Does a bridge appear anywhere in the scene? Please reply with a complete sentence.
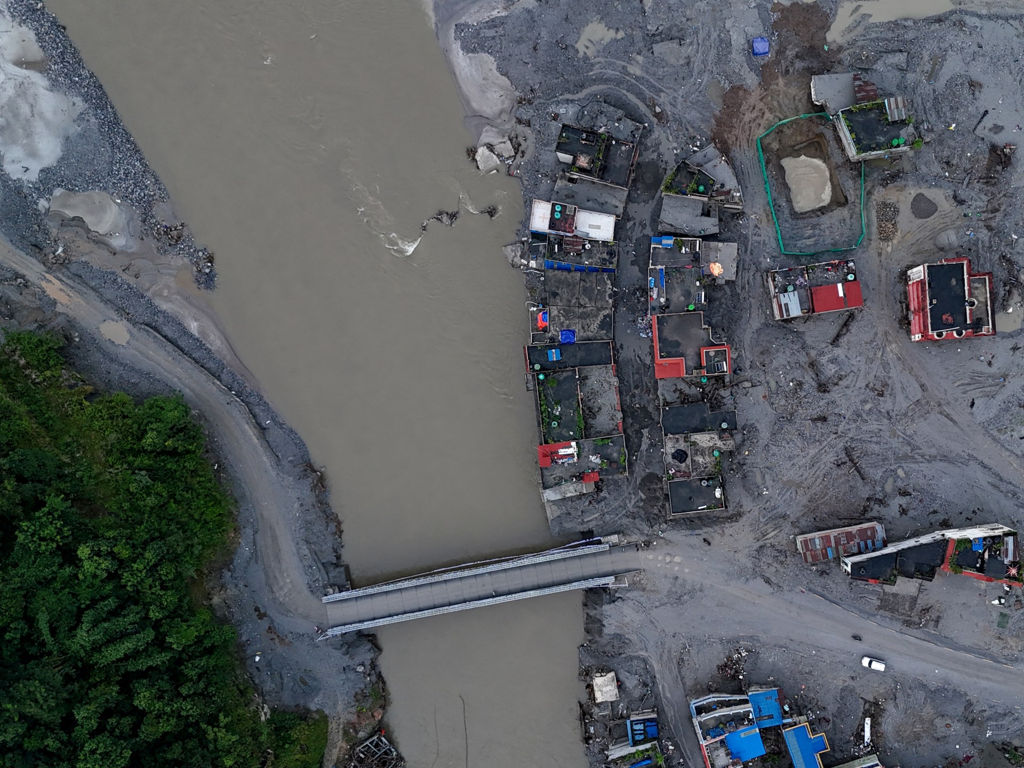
Yes, the photo shows a bridge.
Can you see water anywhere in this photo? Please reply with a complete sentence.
Yes, there's water in this view.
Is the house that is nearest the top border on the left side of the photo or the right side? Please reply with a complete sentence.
The house that is nearest the top border appears in the right half of the scene.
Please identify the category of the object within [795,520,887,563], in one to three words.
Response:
shed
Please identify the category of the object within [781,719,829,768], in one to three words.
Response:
house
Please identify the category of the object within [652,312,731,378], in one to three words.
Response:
house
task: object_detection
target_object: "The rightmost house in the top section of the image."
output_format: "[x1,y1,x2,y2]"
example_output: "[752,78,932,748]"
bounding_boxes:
[907,257,996,342]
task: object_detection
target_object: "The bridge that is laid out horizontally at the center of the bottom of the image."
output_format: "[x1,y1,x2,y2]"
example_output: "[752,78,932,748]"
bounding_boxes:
[320,540,644,643]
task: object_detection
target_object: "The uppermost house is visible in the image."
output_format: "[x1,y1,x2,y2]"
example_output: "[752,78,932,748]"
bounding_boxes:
[806,73,878,120]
